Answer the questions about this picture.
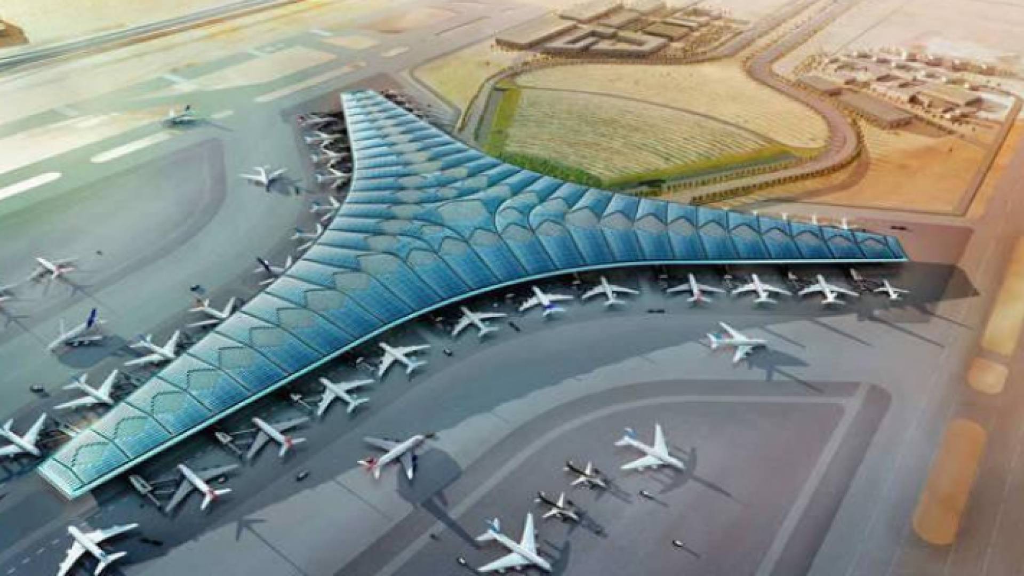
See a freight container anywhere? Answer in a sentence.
No, this view has no freight container in it.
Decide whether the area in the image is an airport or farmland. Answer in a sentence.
This looks like an airport.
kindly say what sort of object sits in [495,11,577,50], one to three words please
shed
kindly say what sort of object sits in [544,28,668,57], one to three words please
building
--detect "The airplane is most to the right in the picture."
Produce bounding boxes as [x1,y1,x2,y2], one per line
[878,282,905,298]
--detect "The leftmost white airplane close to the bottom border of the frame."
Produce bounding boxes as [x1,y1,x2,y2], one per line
[60,524,134,576]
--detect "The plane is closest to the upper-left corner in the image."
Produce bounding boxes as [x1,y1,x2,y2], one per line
[163,106,195,125]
